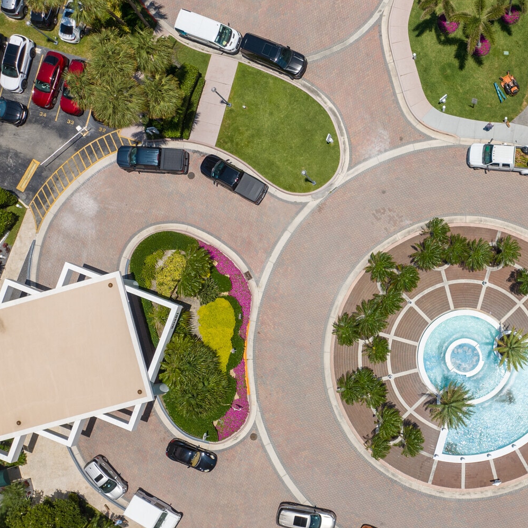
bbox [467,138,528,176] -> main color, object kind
white truck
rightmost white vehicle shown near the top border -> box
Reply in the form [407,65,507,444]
[179,11,244,54]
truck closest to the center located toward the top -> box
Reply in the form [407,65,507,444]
[198,154,272,208]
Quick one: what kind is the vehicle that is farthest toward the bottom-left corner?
automobile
